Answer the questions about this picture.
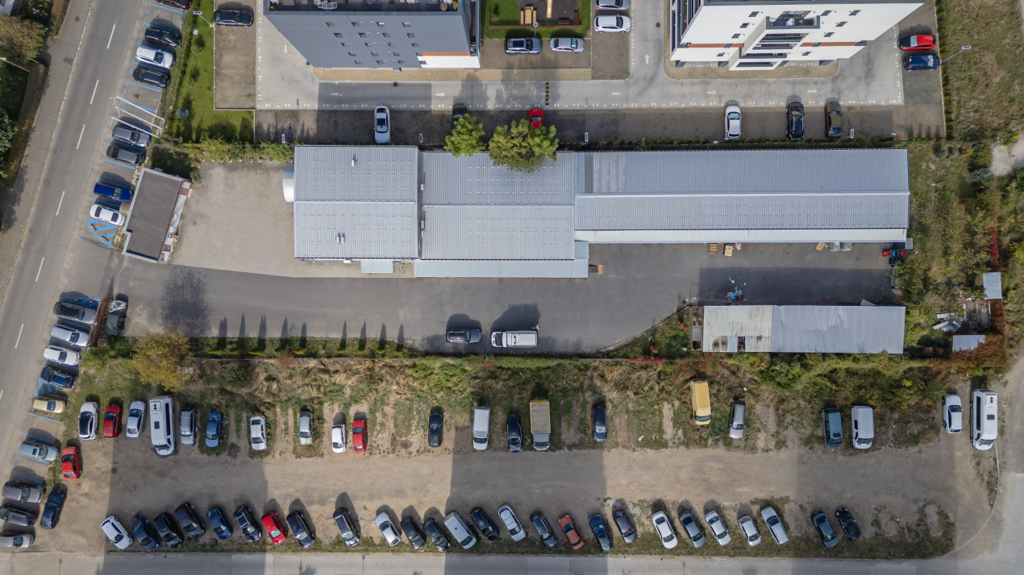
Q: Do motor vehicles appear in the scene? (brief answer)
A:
Yes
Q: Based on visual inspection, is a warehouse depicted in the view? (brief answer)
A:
Yes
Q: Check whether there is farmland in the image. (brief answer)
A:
No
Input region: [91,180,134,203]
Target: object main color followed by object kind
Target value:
blue truck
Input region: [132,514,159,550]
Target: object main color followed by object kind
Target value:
black car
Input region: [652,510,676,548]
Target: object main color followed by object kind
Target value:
white car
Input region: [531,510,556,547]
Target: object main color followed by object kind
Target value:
black car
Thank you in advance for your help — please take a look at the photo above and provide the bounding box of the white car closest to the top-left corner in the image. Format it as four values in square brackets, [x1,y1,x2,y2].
[136,46,174,69]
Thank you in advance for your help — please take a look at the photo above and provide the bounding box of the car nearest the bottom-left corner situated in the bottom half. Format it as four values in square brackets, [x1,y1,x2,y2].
[0,531,35,551]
